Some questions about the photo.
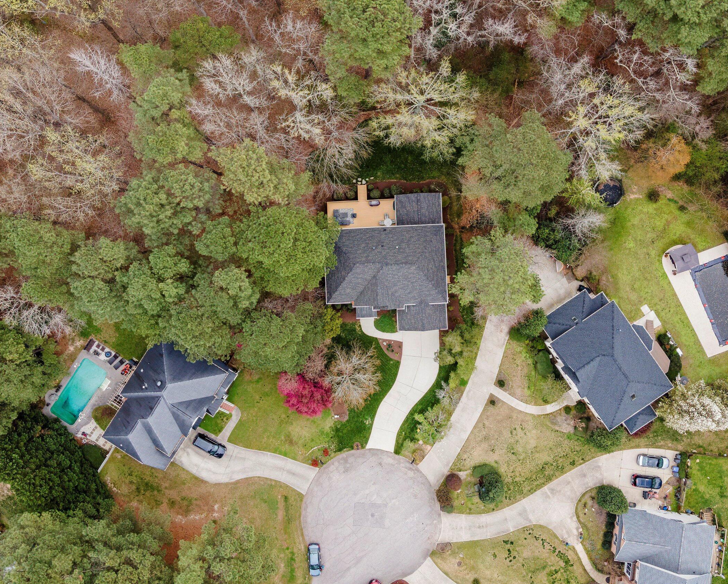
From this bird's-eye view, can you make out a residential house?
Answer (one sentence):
Yes, the photo shows a residential house.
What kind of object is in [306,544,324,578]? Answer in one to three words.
car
